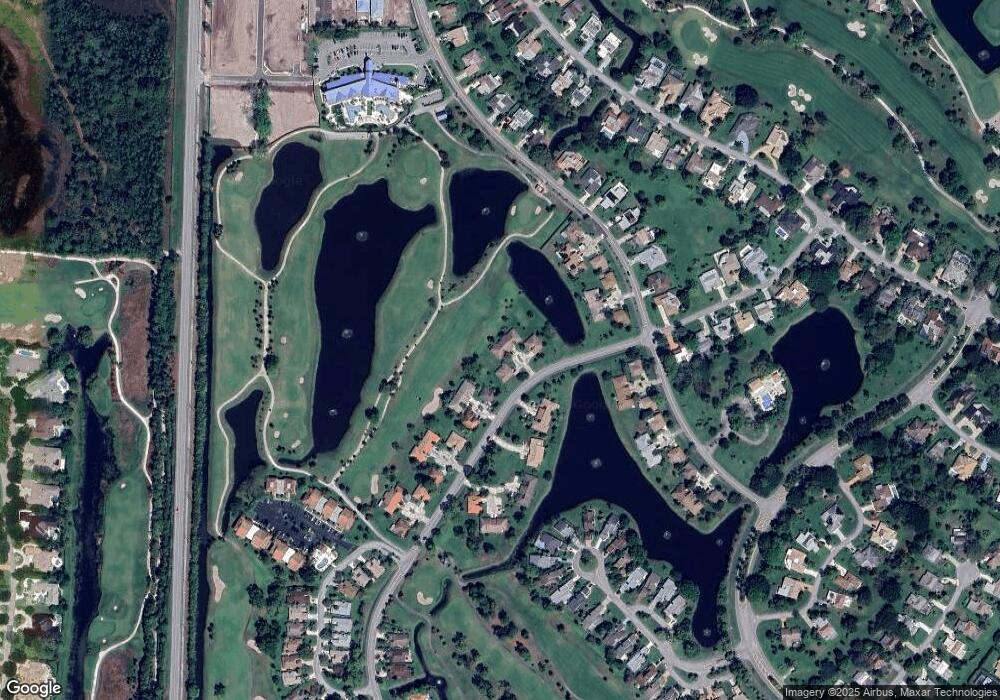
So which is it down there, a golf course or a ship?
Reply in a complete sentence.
I can see a golf course in this picture.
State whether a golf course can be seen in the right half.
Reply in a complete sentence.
Yes, a golf course appears in the right half.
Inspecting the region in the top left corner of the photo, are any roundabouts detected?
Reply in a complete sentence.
No, I can find no roundabout in the top left corner of the photo.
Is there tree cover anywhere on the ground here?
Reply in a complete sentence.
Yes, some tree cover is visible.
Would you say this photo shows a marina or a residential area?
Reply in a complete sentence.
This looks like a residential area.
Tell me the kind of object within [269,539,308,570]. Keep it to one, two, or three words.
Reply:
building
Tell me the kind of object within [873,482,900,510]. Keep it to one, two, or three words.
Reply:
house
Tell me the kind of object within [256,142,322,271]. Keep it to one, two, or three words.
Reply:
pond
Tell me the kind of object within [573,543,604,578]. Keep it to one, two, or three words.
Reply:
roundabout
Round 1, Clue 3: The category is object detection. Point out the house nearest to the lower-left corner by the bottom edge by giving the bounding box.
[13,660,54,688]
